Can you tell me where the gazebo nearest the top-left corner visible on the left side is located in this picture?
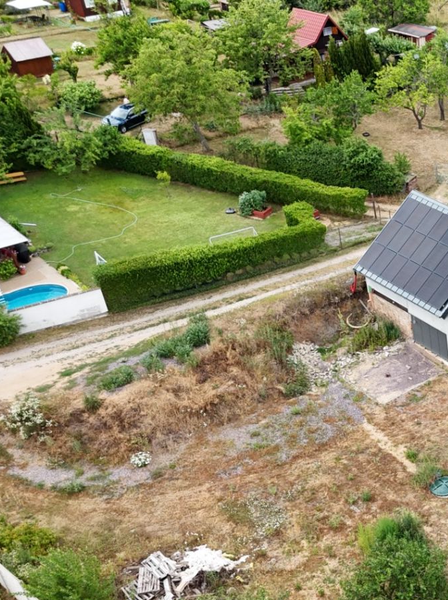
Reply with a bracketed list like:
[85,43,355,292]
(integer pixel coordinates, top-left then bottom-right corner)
[5,0,54,26]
